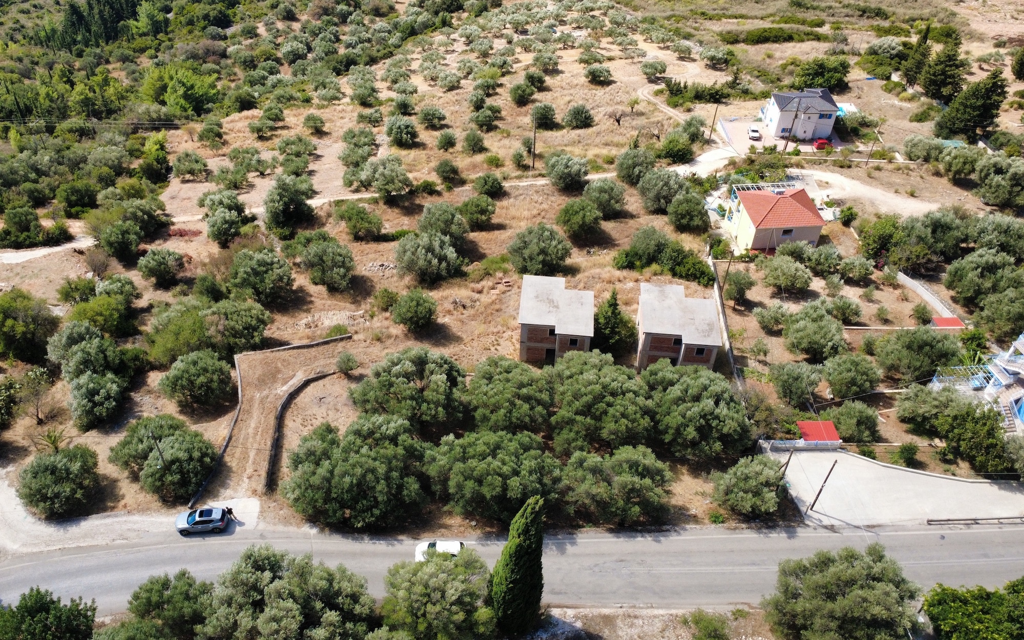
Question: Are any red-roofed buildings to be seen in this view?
Yes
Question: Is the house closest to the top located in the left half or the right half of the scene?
right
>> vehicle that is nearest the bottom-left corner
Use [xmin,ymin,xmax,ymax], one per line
[173,504,231,536]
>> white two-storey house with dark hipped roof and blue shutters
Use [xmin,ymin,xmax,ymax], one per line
[754,86,841,138]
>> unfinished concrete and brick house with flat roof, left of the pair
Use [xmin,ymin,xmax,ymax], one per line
[519,276,595,380]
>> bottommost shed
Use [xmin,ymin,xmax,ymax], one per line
[796,421,839,443]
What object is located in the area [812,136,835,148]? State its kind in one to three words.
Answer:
vehicle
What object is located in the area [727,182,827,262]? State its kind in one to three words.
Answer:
house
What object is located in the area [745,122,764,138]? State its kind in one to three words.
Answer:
vehicle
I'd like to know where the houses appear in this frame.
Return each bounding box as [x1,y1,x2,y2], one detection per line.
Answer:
[519,276,595,380]
[940,325,1024,424]
[754,86,841,138]
[727,182,827,262]
[636,283,724,379]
